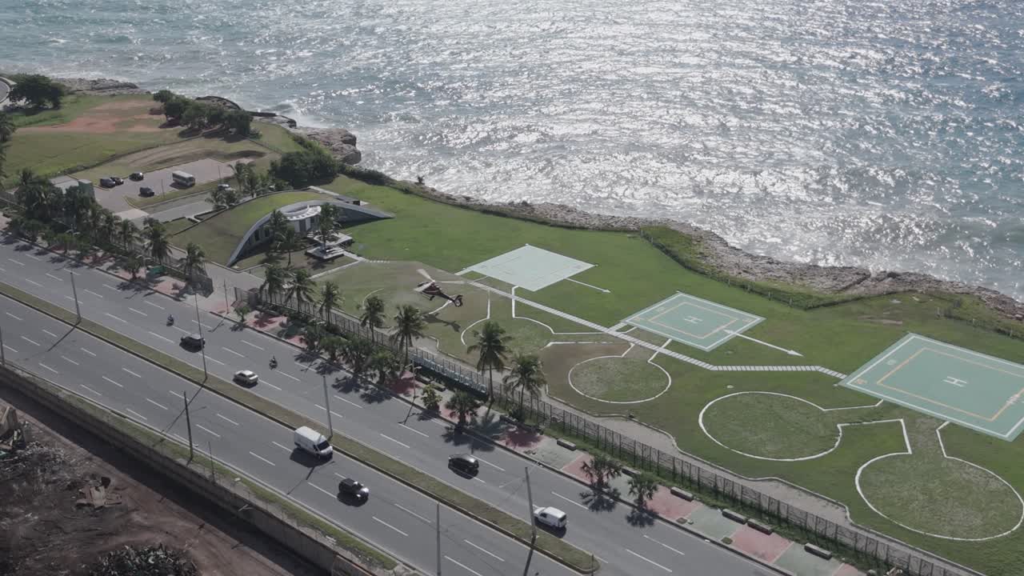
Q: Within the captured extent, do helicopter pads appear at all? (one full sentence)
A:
Yes, there's a helicopter pad down there.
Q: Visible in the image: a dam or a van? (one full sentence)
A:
Looking from above, you can make out a van.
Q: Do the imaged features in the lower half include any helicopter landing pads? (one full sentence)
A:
Yes, a helicopter landing pad appears in the lower half.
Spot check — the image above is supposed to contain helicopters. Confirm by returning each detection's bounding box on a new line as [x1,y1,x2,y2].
[409,267,465,311]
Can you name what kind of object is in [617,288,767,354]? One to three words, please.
helipad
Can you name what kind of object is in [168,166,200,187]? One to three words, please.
vehicle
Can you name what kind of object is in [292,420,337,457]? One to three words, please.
van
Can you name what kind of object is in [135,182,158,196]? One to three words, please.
car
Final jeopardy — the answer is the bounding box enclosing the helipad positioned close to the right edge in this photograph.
[836,329,1024,443]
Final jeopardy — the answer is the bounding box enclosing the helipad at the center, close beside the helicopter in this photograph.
[468,242,596,294]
